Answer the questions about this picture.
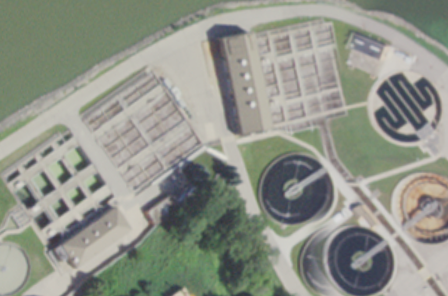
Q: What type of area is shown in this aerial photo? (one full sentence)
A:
The picture captures an industrial area.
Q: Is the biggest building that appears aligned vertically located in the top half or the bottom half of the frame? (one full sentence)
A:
The biggest building that appears aligned vertically is in the top half of the image.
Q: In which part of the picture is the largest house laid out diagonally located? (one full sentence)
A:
The largest house laid out diagonally sits in the bottom left section of the image.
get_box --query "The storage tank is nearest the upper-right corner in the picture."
[368,67,446,148]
